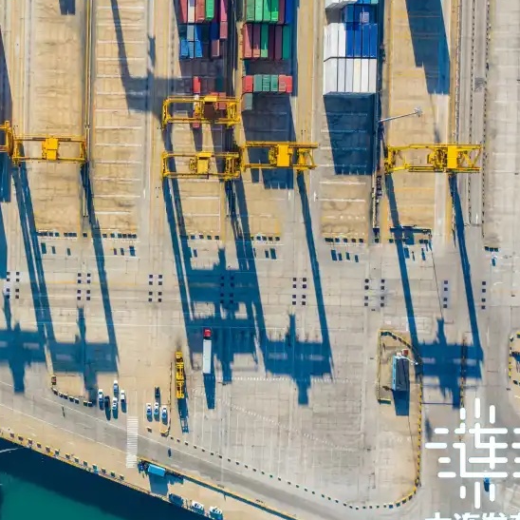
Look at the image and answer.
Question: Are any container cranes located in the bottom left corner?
No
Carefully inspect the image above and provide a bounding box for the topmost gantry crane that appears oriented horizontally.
[158,95,244,131]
